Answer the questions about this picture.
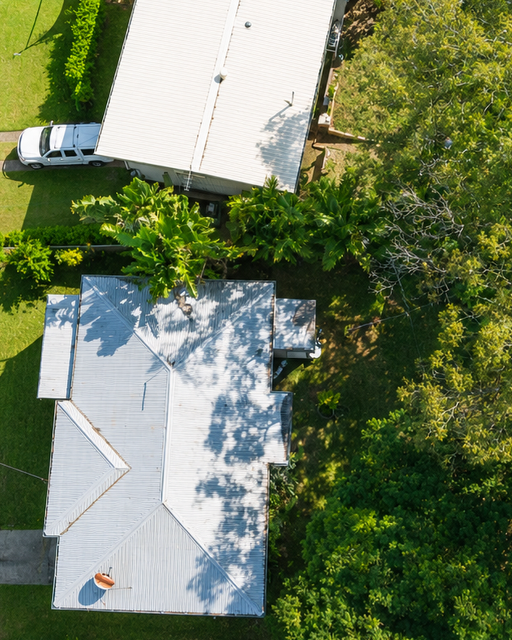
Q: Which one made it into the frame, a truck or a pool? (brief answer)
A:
truck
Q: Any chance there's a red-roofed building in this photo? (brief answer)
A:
No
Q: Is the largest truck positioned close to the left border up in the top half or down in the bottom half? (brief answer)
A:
top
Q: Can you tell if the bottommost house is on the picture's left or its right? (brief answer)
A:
left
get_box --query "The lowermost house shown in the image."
[36,272,316,619]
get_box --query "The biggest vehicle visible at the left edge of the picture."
[15,119,109,165]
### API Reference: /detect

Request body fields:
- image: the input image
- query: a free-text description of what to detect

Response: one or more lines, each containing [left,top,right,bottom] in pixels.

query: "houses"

[36,272,316,619]
[93,0,349,208]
